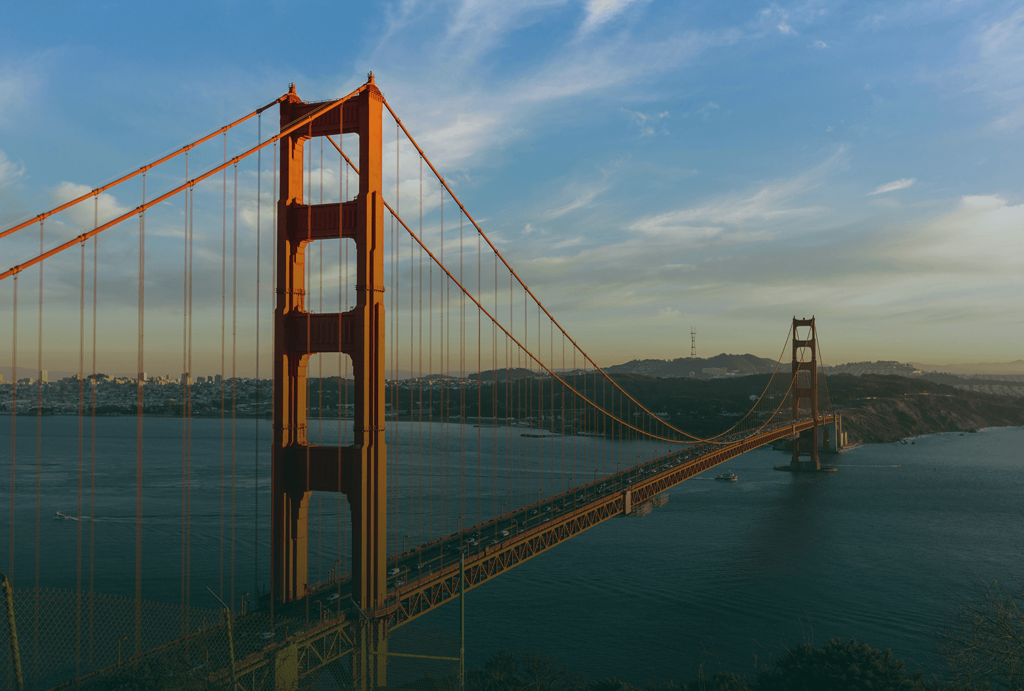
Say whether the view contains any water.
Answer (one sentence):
Yes, some water is visible.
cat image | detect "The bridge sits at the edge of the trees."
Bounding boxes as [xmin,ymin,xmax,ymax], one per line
[0,72,844,691]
